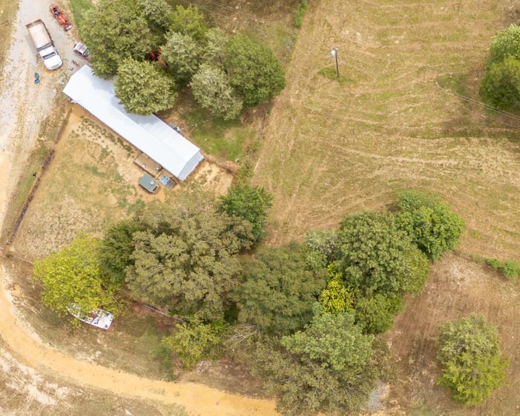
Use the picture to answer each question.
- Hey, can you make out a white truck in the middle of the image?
No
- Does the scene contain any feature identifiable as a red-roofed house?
No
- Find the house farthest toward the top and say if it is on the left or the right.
left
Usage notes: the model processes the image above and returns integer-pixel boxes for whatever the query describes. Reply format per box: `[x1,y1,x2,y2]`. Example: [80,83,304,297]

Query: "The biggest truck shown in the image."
[24,17,64,75]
